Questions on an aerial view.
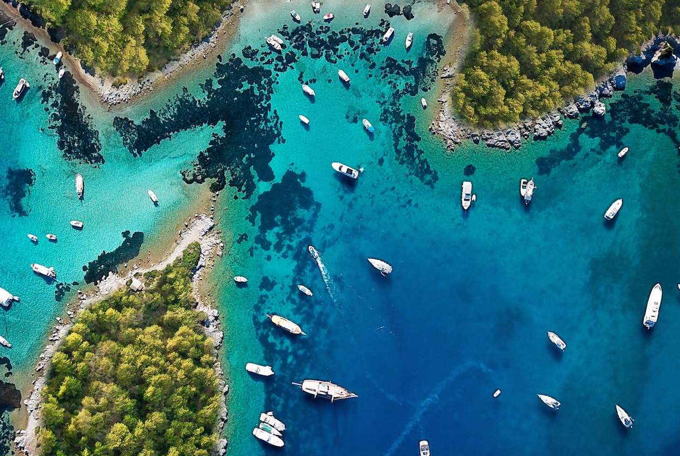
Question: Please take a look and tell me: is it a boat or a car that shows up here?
boat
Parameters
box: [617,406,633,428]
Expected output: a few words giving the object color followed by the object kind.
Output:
white boat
